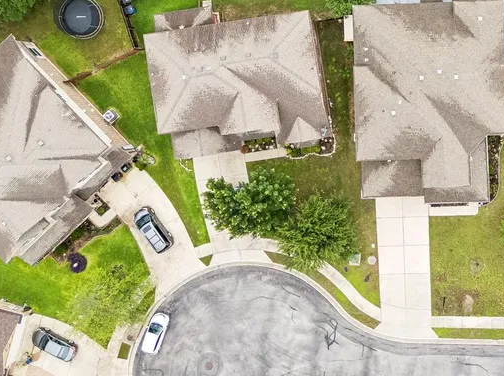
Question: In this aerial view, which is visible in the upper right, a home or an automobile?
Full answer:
There is a home in the upper right.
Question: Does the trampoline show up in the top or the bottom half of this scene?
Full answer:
The top half of the photo is where the trampoline is.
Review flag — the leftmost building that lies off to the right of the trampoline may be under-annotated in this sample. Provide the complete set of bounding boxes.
[143,0,330,160]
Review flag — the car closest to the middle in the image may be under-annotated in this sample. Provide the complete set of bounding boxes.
[131,205,176,256]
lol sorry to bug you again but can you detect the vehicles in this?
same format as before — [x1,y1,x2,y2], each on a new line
[31,329,78,363]
[131,205,176,256]
[137,311,171,356]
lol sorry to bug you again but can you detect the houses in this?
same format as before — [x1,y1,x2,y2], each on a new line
[0,35,142,266]
[343,0,504,205]
[143,0,330,160]
[0,298,39,376]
